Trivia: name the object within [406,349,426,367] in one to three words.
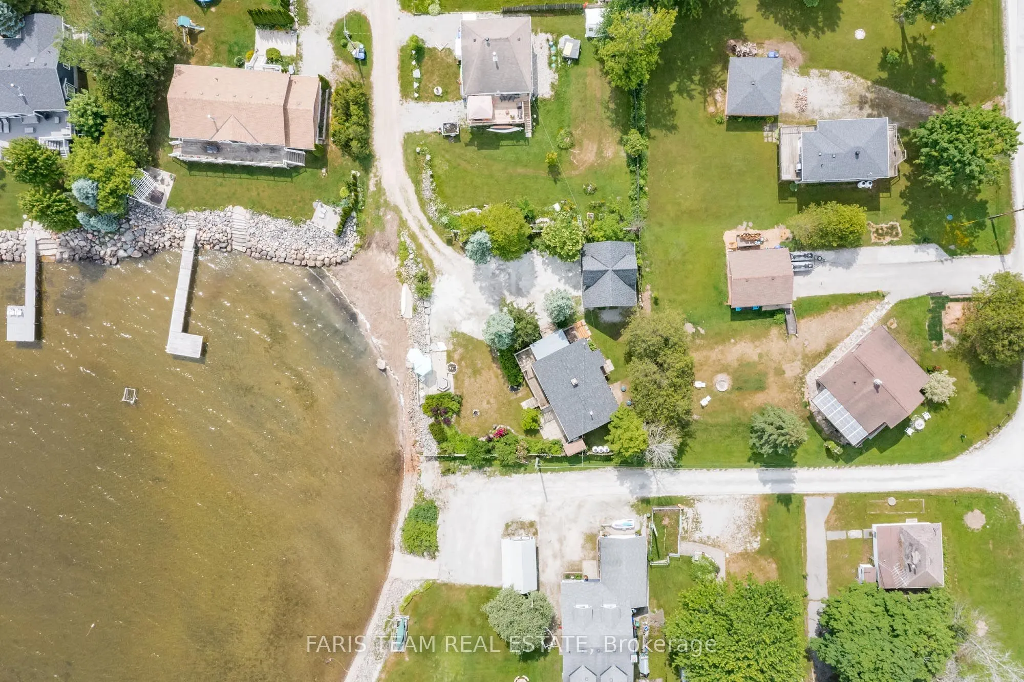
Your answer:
umbrella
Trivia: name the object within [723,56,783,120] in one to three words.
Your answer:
building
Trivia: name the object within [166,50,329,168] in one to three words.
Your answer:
house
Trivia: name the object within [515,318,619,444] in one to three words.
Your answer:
house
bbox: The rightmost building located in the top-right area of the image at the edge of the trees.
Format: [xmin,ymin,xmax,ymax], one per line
[778,117,910,185]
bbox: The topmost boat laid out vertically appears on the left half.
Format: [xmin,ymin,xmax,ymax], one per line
[400,284,413,319]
